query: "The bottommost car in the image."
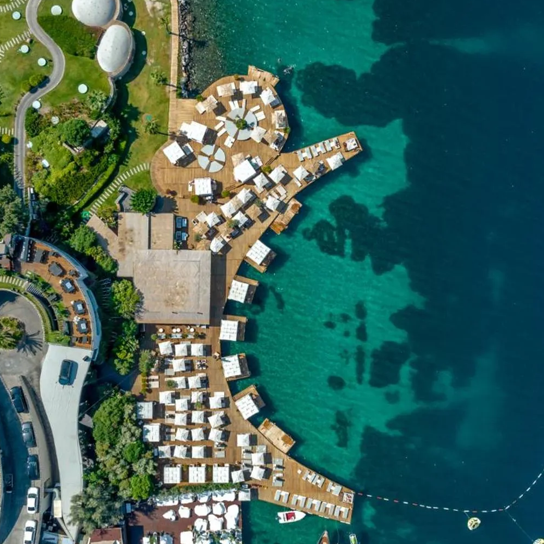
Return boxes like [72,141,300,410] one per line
[22,520,36,544]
